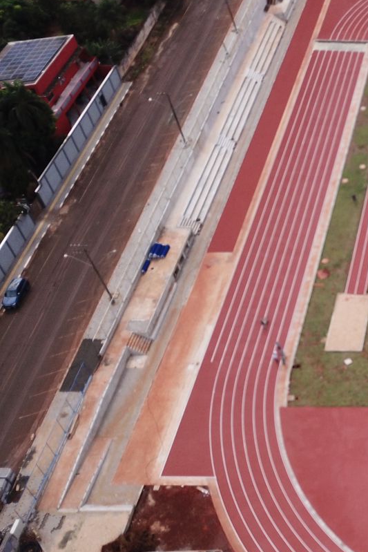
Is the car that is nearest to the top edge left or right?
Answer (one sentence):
It is on the left.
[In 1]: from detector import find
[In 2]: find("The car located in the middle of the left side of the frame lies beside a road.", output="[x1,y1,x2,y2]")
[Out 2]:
[1,281,29,309]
